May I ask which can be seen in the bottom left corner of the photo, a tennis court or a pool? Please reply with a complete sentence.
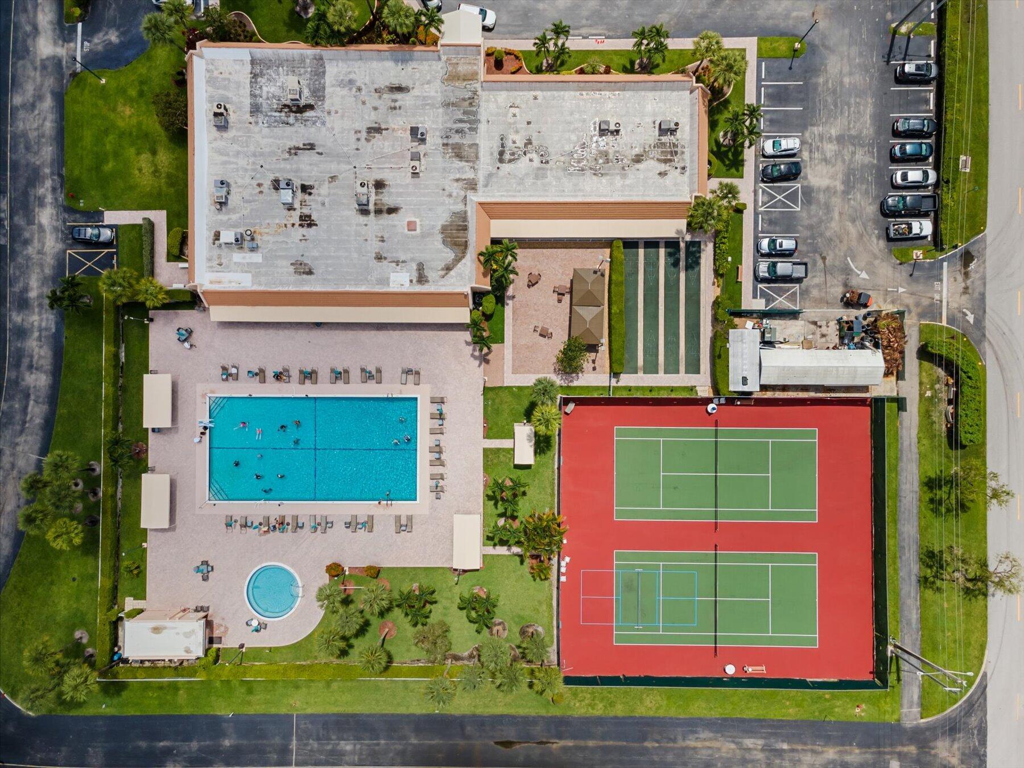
The feature located in the bottom left corner of the photo is a pool.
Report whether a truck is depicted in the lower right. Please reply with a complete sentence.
No, the scene shows no truck in the lower right.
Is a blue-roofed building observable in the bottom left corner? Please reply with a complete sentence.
No, in the bottom left corner there is no blue-roofed building.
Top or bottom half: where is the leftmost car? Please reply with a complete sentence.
It is in the top half that the leftmost car appears.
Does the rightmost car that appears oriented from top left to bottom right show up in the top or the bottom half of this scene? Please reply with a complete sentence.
The top half of the photo is where the rightmost car that appears oriented from top left to bottom right is.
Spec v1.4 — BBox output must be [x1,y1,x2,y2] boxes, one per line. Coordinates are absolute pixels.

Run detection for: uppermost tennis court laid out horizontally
[561,398,874,537]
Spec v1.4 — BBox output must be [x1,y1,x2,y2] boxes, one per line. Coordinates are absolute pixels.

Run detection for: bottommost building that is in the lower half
[124,604,214,657]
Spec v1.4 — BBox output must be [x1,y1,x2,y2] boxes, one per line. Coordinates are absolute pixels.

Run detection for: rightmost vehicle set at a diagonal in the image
[457,5,498,32]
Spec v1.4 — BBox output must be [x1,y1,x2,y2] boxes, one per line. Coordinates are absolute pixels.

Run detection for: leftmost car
[72,224,116,245]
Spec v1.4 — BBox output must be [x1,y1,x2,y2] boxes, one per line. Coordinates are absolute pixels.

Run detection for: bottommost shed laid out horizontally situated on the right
[760,350,885,385]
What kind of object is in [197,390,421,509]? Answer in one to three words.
swimming pool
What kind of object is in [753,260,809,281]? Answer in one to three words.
truck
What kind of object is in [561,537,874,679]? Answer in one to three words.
tennis court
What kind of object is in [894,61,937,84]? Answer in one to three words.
car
